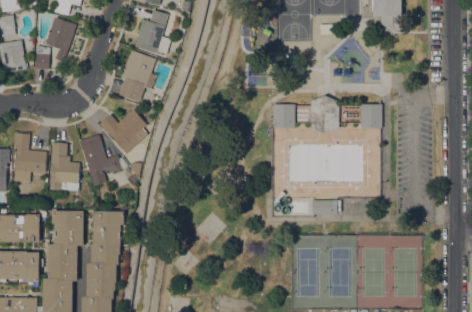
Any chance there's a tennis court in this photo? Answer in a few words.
Yes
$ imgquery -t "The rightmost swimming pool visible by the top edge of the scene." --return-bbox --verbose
[40,14,52,39]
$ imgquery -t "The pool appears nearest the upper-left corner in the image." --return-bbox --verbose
[20,16,32,38]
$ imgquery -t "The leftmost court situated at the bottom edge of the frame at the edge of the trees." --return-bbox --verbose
[294,235,326,308]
